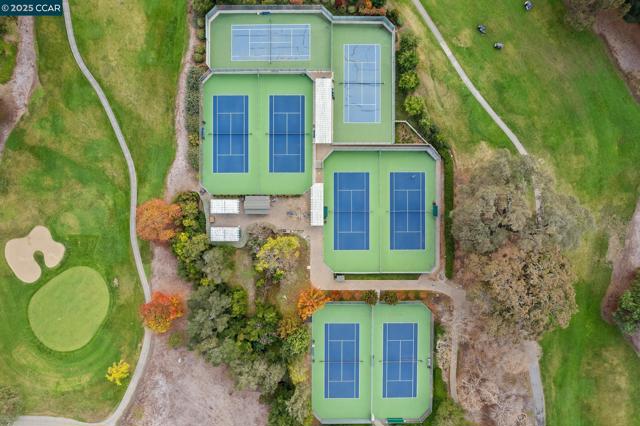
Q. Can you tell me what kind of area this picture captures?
golf course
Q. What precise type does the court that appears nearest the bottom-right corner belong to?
tennis court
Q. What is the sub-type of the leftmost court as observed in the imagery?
tennis court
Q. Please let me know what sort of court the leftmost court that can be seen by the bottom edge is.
tennis court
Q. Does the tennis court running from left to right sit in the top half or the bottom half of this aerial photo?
top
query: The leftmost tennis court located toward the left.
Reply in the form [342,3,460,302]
[203,74,258,195]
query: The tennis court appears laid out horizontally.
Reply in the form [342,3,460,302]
[211,13,332,71]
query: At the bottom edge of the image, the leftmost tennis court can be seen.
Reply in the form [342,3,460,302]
[312,304,372,420]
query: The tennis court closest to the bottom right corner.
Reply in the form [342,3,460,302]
[374,304,431,420]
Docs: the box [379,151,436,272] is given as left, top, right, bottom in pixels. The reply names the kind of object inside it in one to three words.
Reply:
tennis court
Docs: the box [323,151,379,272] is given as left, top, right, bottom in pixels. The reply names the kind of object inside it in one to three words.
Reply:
tennis court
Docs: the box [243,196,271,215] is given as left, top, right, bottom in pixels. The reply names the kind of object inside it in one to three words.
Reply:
building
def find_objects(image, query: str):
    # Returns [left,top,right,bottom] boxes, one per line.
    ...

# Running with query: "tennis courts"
[323,151,379,272]
[211,13,332,71]
[374,304,431,420]
[258,74,314,195]
[312,304,372,420]
[203,74,258,195]
[332,24,392,143]
[379,151,436,272]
